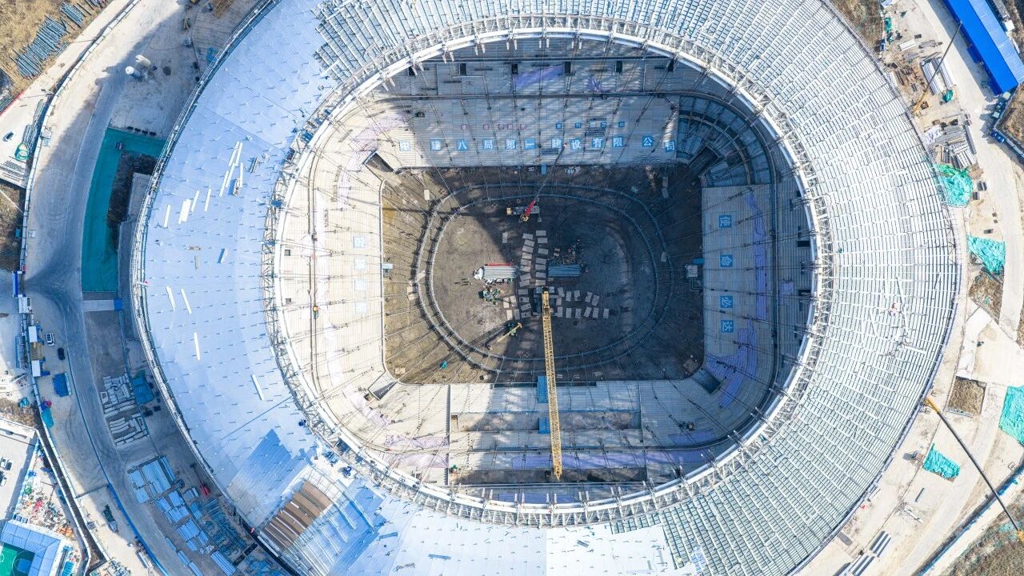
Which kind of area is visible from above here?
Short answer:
sports ground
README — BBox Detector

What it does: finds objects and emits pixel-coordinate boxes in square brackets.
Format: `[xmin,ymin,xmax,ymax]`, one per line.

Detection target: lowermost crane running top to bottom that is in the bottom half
[536,287,562,481]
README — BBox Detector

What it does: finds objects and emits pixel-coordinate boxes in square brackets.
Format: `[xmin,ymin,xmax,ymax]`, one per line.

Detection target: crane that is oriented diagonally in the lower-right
[917,388,1024,538]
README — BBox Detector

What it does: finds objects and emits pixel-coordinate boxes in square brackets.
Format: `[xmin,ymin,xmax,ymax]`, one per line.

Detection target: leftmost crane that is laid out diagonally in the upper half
[506,144,566,223]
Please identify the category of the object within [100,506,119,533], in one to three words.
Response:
vehicle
